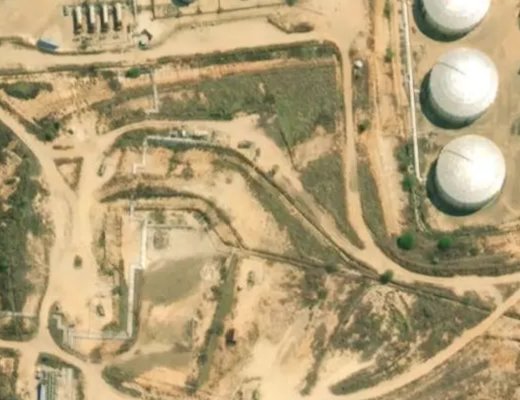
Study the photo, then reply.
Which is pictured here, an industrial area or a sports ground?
industrial area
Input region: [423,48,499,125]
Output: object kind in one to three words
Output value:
storage tank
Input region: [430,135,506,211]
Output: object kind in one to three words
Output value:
storage tank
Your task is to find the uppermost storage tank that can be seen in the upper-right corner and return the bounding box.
[415,0,492,41]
